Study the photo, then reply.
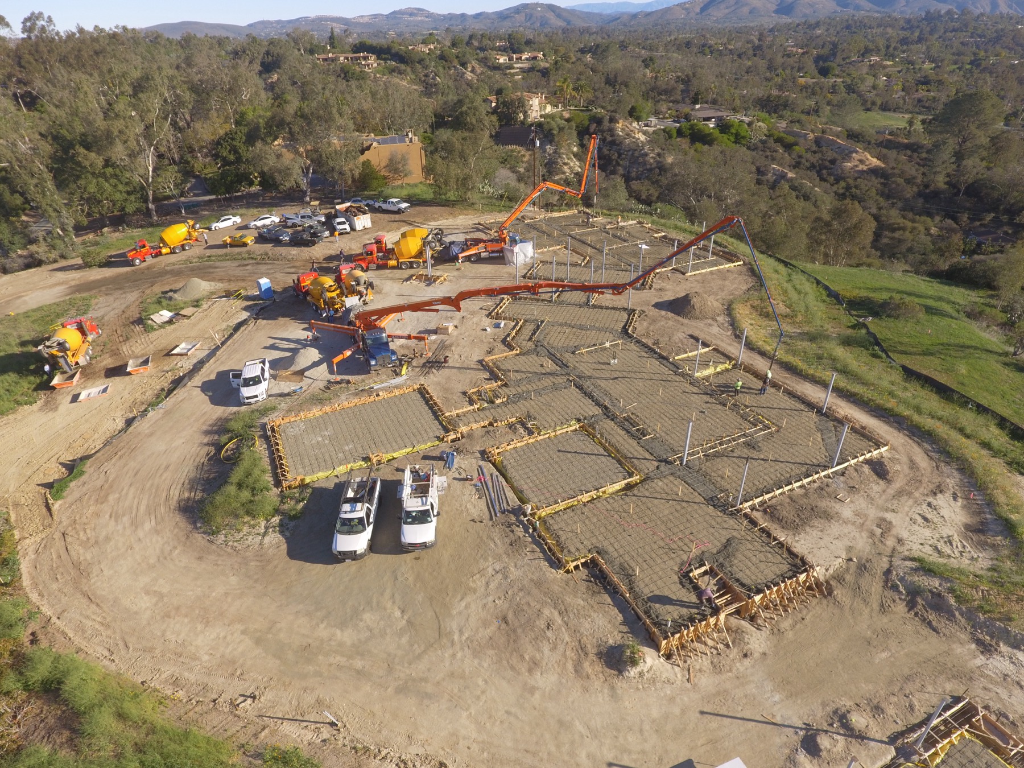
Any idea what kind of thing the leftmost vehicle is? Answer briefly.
truck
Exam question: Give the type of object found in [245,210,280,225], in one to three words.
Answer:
car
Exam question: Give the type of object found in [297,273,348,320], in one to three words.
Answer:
truck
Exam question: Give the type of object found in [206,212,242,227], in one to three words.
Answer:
car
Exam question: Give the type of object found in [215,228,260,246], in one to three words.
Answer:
vehicle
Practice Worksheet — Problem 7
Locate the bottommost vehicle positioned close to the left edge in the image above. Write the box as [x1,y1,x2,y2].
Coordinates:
[34,313,101,373]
